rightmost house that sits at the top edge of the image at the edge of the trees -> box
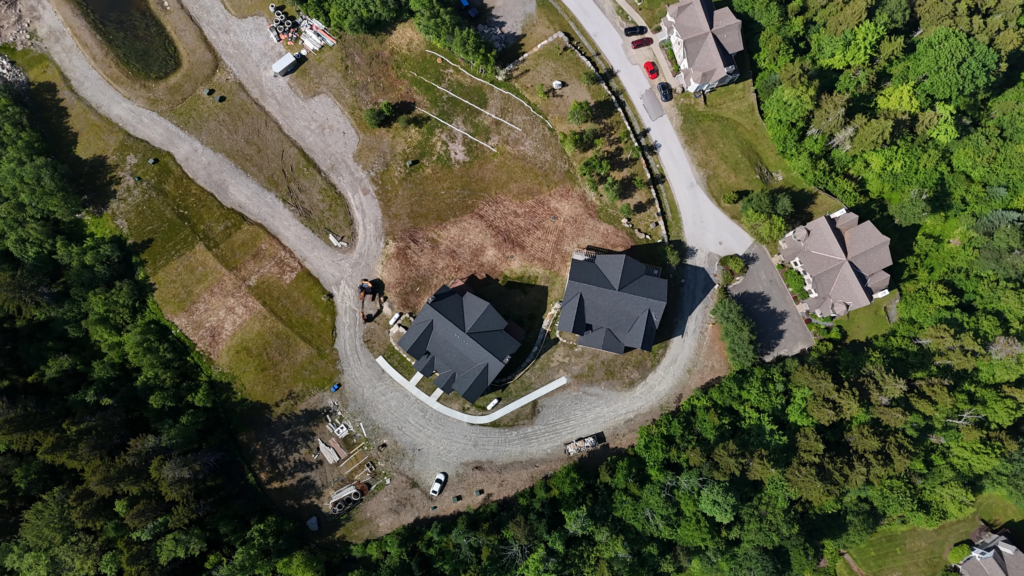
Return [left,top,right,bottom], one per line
[655,0,744,94]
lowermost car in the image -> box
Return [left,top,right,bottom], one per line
[429,472,445,497]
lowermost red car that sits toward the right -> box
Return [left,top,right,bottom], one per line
[643,61,657,80]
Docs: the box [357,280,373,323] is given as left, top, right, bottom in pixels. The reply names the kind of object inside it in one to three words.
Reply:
work vehicle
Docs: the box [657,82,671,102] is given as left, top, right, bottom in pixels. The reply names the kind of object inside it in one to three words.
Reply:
car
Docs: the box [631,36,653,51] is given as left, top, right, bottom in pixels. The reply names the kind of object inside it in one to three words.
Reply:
car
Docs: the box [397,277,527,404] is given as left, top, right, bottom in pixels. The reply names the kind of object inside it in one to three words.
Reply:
house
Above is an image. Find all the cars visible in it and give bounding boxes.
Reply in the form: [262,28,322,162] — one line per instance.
[625,24,647,39]
[631,36,653,51]
[657,82,671,102]
[643,61,657,80]
[429,472,445,497]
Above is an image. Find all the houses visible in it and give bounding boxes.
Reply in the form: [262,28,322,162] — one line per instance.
[949,532,1024,576]
[558,248,667,356]
[655,0,744,94]
[397,277,527,404]
[771,208,893,317]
